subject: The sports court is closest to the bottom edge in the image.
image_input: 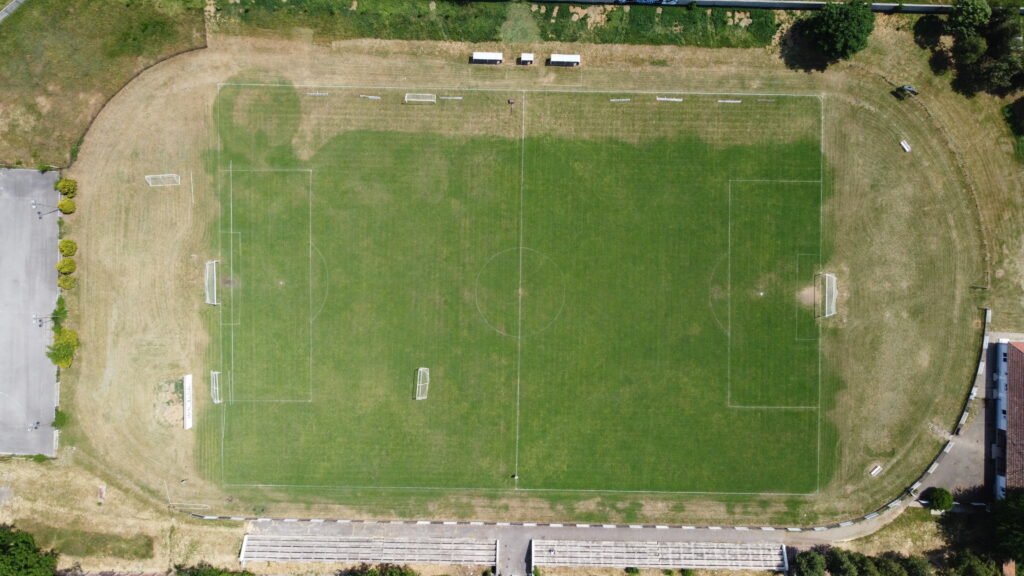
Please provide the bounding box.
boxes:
[0,166,60,460]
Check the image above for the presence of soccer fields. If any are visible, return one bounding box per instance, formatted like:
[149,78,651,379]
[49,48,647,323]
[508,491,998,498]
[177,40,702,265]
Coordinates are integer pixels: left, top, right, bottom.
[216,83,833,497]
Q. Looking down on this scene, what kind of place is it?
sports ground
